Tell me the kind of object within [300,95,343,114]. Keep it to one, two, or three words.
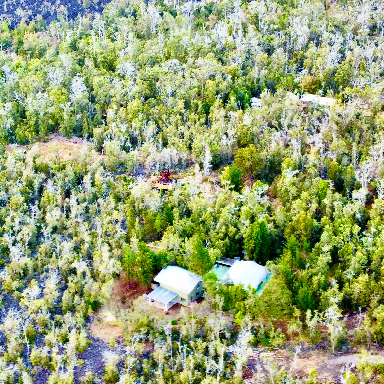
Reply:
shed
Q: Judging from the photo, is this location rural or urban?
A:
rural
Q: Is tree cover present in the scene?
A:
Yes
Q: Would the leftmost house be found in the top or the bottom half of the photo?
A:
bottom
